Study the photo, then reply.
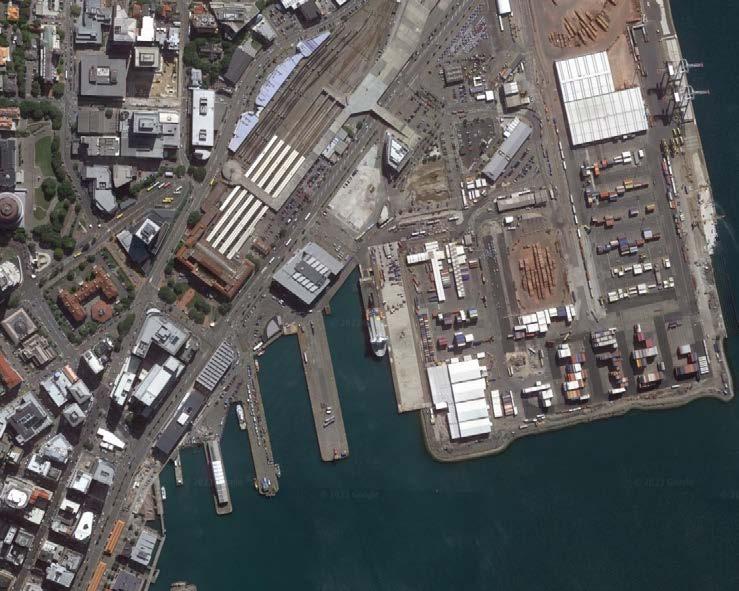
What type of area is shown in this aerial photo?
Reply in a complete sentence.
This looks like a port.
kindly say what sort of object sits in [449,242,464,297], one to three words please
building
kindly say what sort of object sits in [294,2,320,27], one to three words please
building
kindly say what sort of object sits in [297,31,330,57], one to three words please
shed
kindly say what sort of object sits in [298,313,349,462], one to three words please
pier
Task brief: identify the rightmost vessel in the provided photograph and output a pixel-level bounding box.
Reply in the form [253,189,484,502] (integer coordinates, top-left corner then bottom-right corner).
[359,278,386,357]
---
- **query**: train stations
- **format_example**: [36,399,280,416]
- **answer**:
[174,203,254,300]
